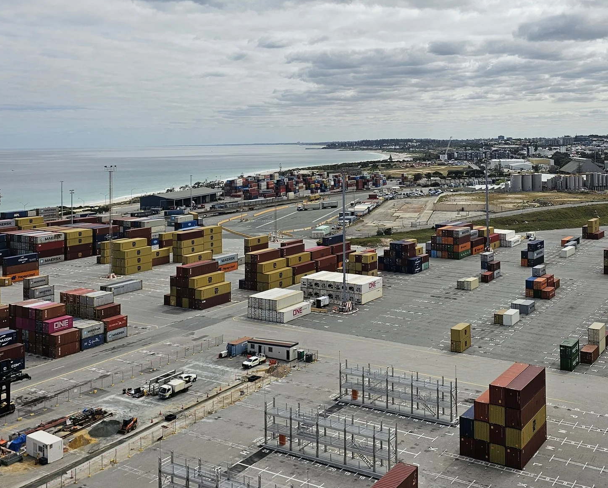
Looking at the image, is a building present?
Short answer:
Yes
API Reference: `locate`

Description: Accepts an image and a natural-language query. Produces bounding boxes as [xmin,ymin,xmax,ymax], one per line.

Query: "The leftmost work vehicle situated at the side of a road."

[0,357,36,414]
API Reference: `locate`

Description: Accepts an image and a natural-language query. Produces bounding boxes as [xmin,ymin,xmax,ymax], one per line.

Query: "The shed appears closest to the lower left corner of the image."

[23,431,63,462]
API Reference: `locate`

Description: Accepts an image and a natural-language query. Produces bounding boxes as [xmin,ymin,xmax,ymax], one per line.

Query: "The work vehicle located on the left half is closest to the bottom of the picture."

[114,415,137,436]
